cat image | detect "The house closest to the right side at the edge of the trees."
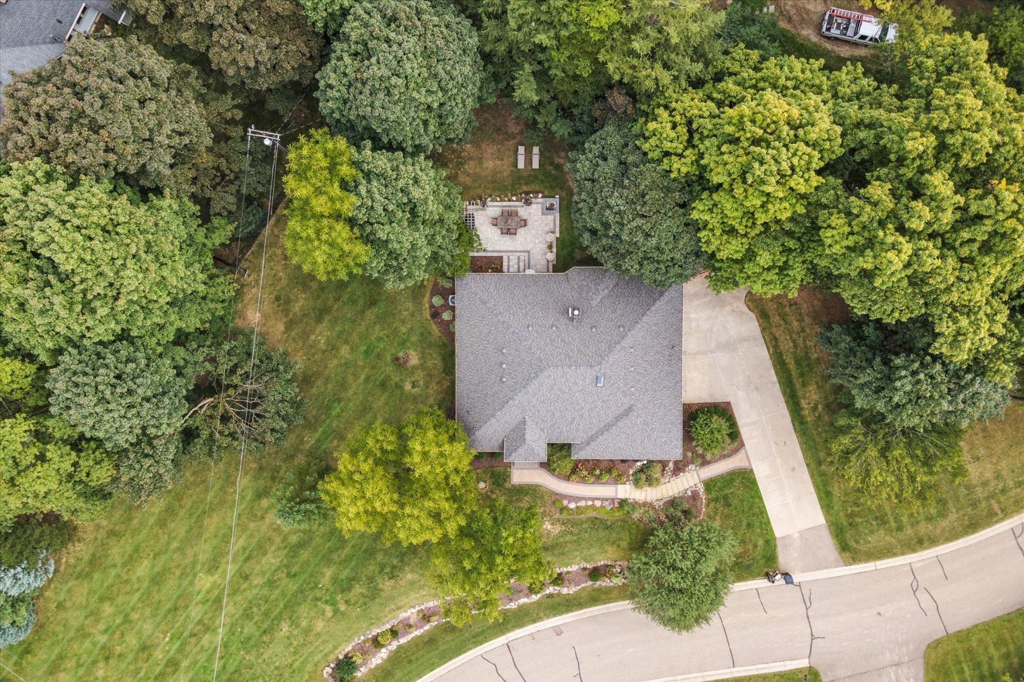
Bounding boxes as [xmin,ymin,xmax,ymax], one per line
[455,266,683,462]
